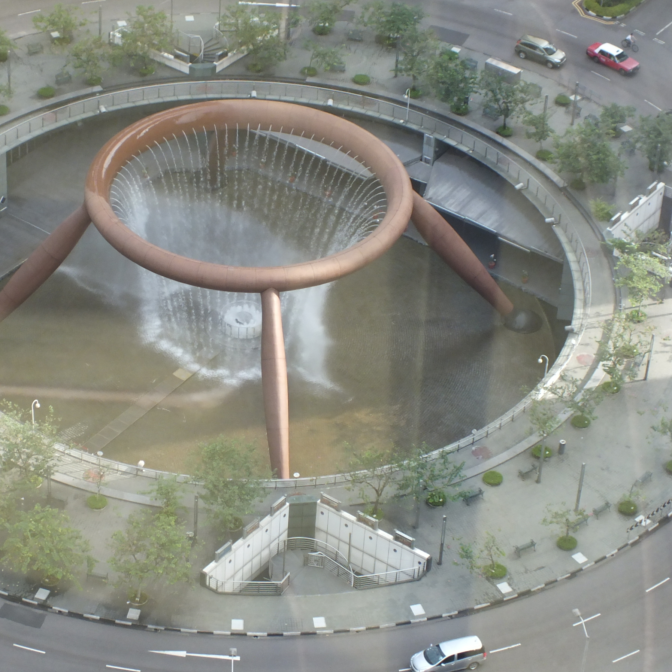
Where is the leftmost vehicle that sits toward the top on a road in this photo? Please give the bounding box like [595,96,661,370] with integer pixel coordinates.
[514,32,571,69]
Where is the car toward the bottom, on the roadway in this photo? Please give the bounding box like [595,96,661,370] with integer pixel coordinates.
[408,633,489,672]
